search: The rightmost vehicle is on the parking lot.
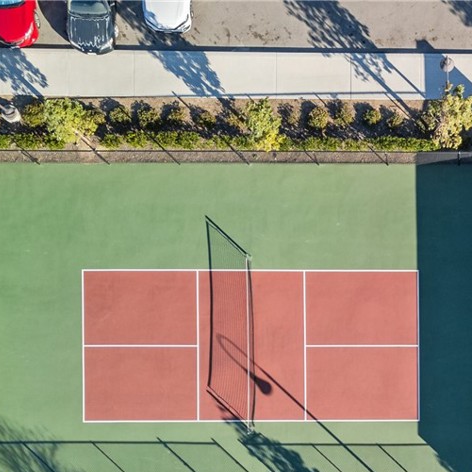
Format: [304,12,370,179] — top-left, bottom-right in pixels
[143,0,196,31]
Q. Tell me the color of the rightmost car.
white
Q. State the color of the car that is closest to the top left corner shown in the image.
red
